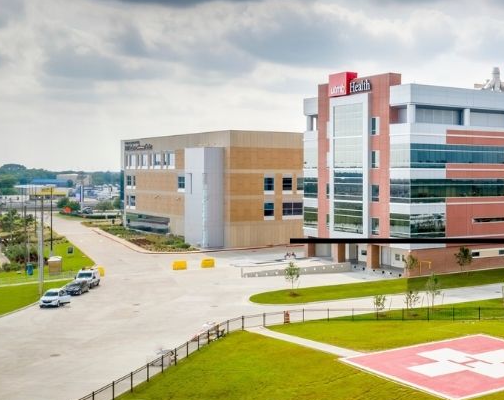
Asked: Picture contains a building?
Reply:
Yes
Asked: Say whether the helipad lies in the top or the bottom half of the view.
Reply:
bottom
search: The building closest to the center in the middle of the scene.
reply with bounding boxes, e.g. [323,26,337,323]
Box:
[118,130,307,249]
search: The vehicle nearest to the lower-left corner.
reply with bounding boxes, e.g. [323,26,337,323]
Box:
[42,290,74,306]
